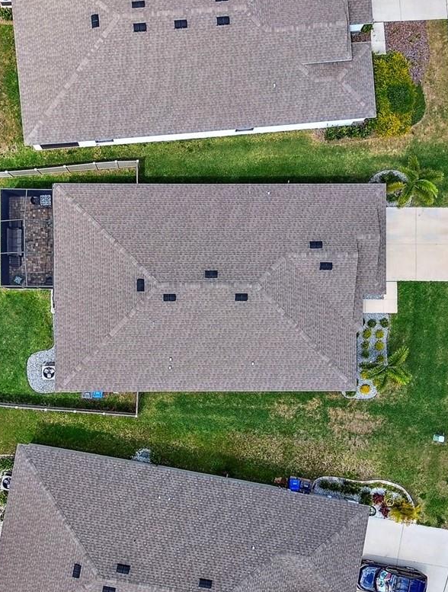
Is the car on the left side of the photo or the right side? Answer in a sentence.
You can find the car on the right side of the picture.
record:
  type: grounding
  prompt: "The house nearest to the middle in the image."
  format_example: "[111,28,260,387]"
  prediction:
[51,182,387,392]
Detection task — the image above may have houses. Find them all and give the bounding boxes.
[0,442,372,592]
[51,182,387,392]
[11,0,378,149]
